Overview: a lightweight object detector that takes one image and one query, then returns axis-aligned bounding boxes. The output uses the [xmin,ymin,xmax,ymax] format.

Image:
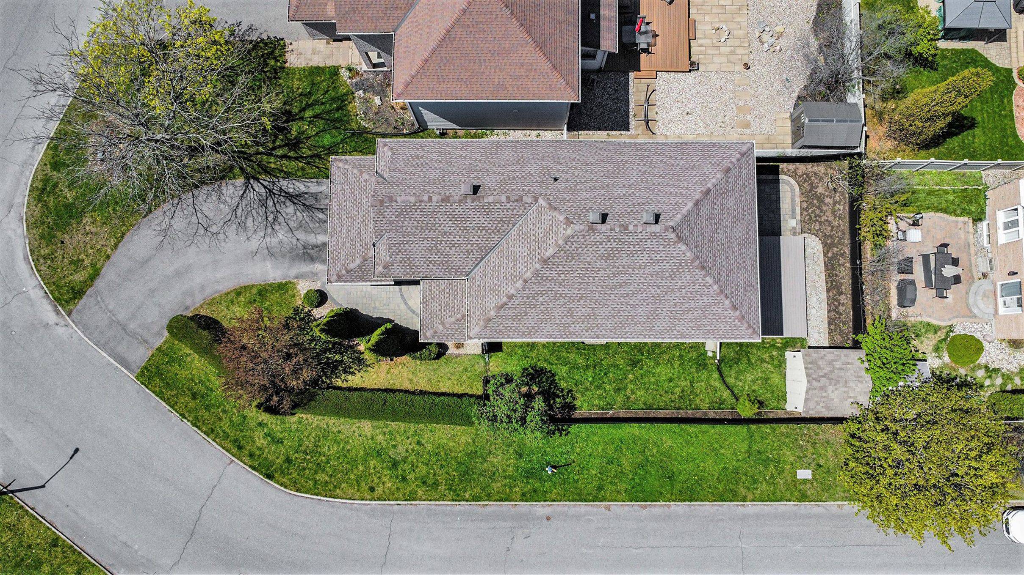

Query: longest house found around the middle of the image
[325,138,763,360]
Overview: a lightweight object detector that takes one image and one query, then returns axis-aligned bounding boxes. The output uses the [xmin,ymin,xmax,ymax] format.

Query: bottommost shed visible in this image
[786,349,875,417]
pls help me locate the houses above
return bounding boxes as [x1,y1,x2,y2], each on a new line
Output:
[286,0,619,129]
[325,138,763,360]
[987,177,1024,338]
